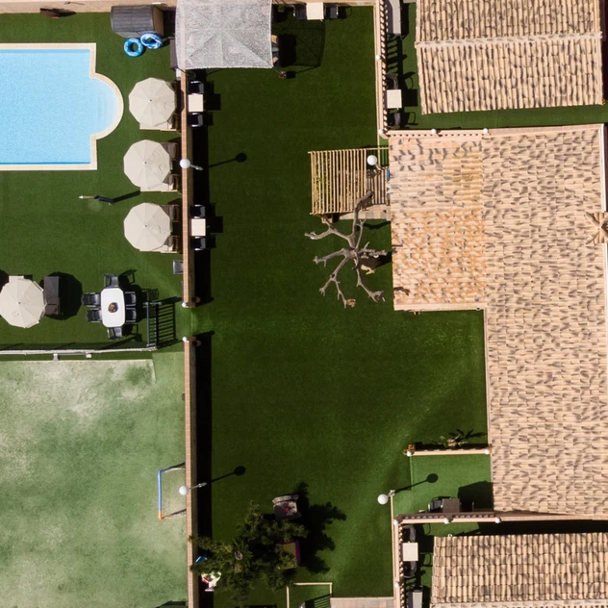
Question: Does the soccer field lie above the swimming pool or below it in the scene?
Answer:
below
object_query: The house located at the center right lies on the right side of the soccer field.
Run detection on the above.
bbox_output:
[388,123,608,520]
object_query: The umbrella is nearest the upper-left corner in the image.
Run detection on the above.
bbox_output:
[130,80,178,126]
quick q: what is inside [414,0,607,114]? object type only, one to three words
building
